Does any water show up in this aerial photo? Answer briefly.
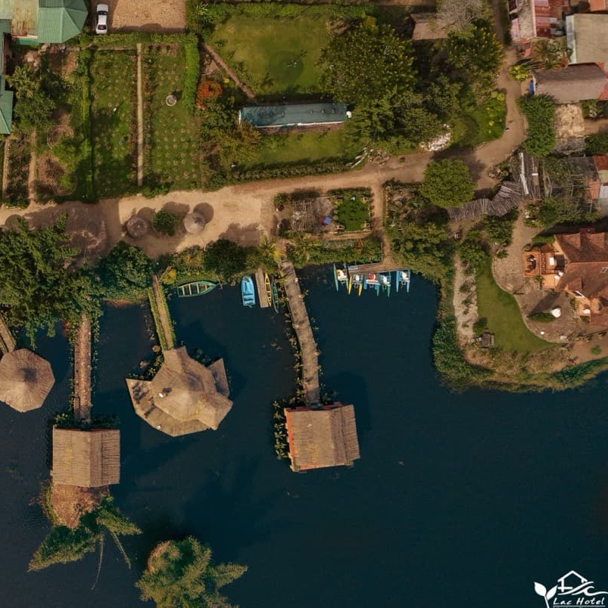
Yes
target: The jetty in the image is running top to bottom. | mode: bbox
[254,269,271,309]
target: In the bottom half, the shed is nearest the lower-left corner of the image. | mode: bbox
[52,427,121,487]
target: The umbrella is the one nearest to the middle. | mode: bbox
[182,211,206,234]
